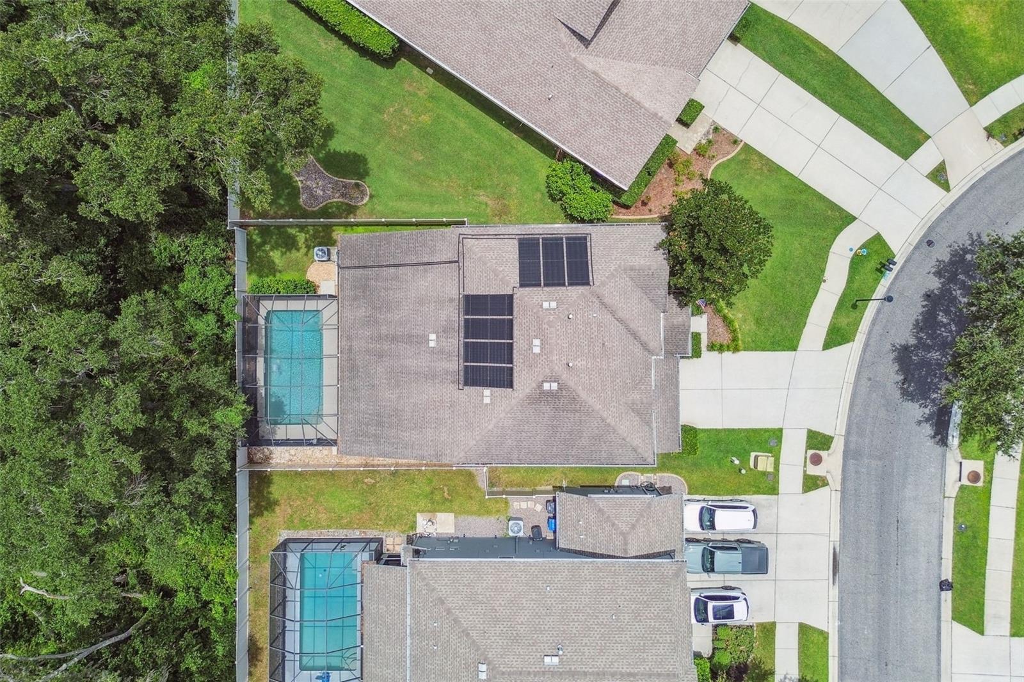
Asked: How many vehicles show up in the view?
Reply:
3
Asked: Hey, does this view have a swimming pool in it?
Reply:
Yes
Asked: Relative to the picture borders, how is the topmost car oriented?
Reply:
from side to side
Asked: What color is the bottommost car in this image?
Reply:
white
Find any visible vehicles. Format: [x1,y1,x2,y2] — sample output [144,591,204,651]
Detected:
[685,501,758,537]
[691,590,751,627]
[685,541,768,578]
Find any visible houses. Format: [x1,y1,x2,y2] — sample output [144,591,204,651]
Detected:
[338,222,696,468]
[346,0,753,190]
[362,486,695,682]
